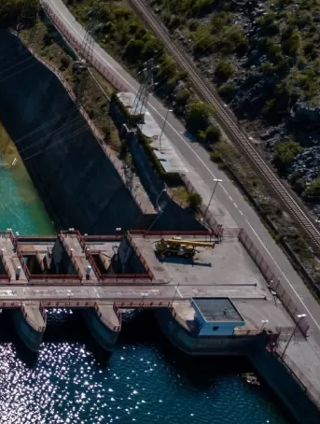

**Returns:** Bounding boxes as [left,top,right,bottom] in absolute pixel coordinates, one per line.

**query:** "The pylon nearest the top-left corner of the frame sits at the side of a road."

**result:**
[82,8,106,54]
